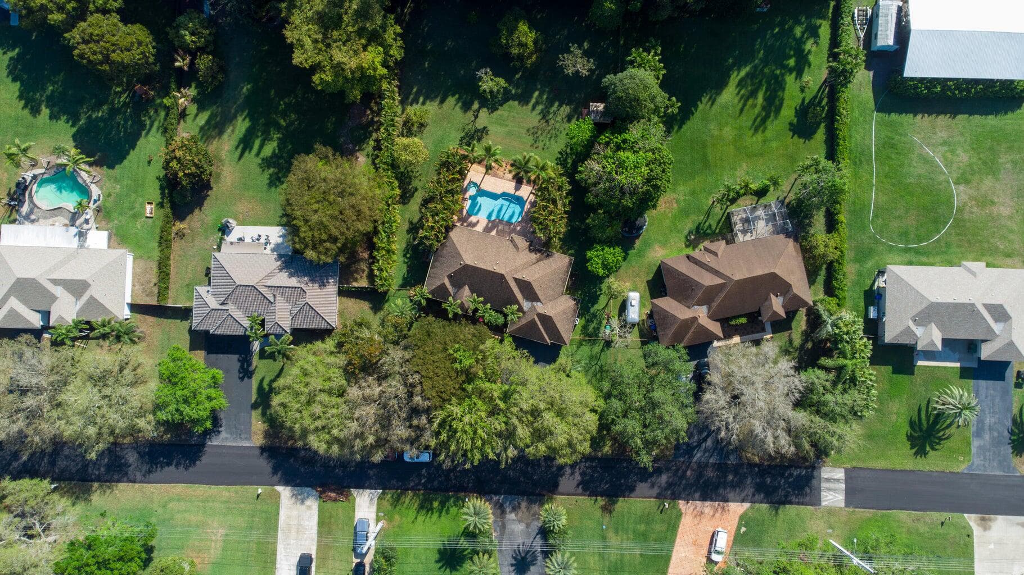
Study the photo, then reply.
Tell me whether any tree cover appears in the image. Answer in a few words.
Yes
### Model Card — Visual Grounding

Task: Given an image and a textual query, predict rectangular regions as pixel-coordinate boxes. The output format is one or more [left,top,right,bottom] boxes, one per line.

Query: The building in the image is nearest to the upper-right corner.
[897,0,1024,78]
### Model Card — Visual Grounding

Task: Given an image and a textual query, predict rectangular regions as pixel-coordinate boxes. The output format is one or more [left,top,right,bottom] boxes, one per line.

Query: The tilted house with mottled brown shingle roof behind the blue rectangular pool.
[423,220,581,345]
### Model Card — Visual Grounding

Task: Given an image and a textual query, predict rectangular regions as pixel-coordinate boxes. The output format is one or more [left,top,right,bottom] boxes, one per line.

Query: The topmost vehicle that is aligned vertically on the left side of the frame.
[354,516,371,553]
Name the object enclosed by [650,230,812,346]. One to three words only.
house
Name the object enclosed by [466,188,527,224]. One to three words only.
swimming pool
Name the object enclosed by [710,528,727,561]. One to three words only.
car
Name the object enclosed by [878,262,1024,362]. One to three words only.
house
